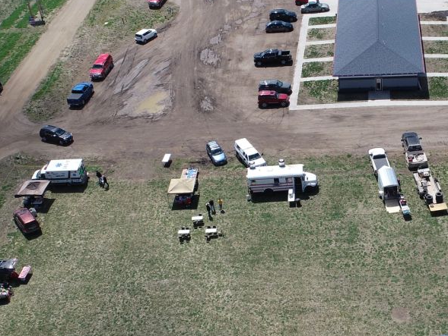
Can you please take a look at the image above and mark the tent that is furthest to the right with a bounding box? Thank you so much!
[168,179,197,208]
